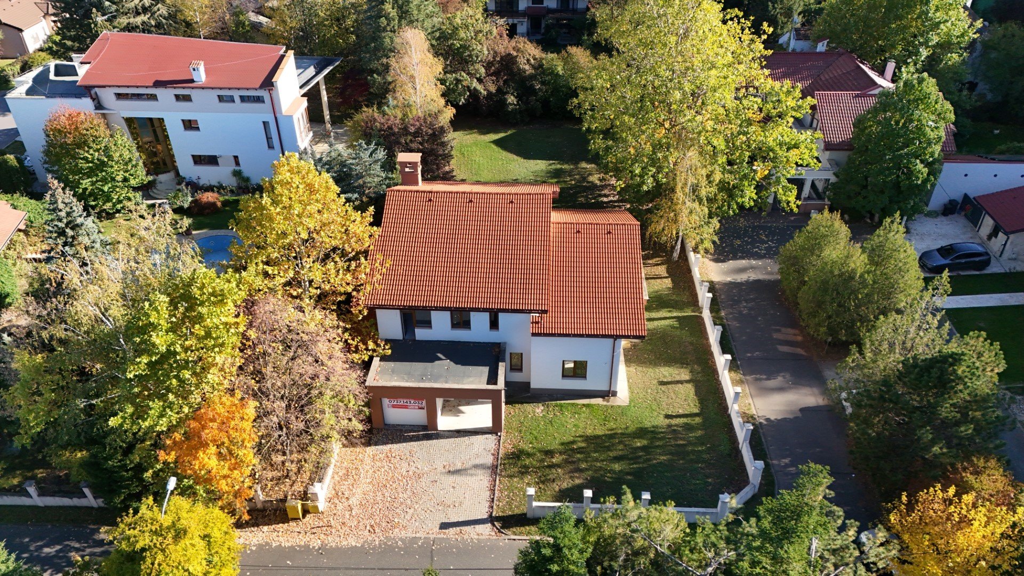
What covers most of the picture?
trees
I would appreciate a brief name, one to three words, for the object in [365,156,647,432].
house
